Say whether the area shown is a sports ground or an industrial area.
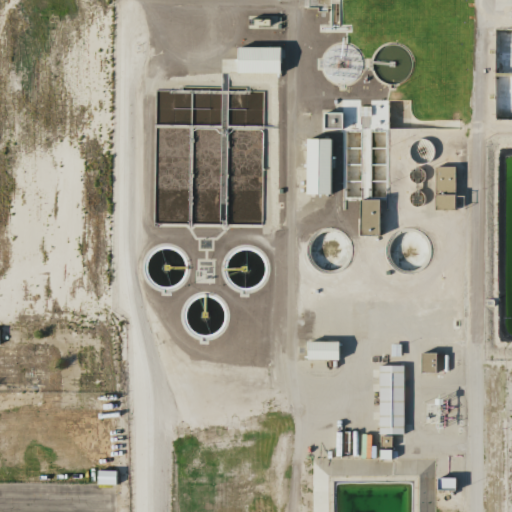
industrial area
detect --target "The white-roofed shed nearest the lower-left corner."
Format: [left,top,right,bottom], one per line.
[96,470,117,488]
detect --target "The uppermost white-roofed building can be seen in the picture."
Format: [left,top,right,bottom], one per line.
[237,46,282,72]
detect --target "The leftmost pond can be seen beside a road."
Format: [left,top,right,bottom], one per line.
[314,460,436,512]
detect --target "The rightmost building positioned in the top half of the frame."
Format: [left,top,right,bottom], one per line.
[436,166,457,210]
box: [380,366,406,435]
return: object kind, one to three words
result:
shed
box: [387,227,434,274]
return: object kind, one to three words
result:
storage tank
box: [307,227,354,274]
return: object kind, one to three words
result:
storage tank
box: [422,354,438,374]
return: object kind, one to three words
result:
building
